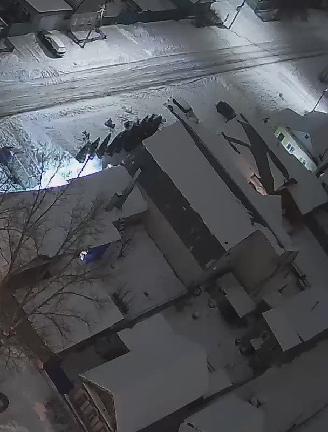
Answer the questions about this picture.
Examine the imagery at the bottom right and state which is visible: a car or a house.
house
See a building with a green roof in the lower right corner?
No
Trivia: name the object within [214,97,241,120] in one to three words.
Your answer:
car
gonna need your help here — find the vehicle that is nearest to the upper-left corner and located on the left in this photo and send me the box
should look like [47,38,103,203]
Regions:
[39,29,68,56]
